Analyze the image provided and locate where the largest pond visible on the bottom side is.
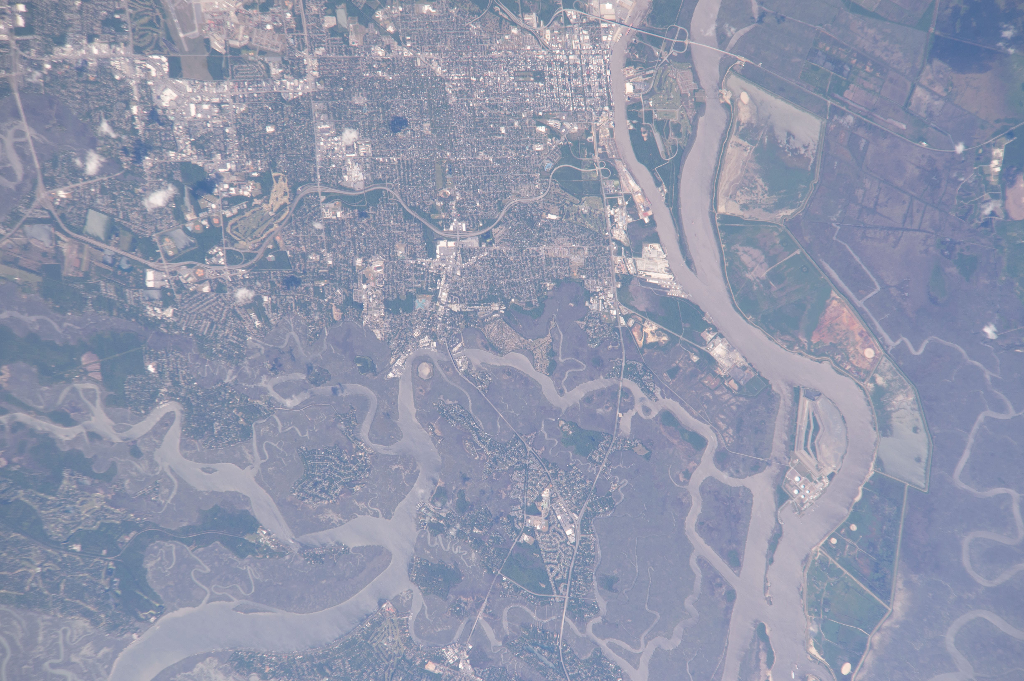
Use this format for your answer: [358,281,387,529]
[877,410,928,488]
